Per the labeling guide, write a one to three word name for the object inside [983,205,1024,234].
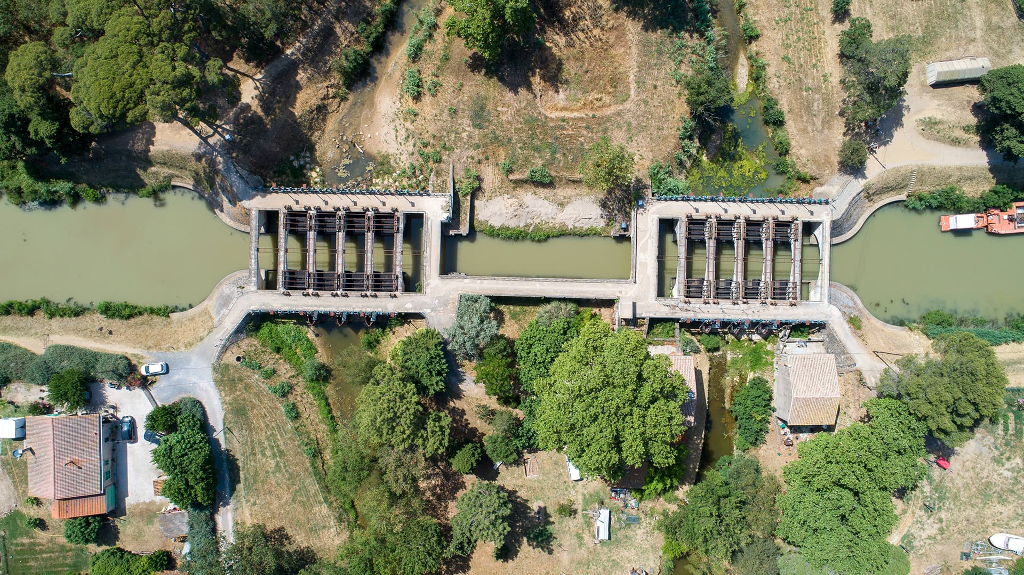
ship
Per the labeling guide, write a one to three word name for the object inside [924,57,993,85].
building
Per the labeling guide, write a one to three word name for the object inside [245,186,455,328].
bridge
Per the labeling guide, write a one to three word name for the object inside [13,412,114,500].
house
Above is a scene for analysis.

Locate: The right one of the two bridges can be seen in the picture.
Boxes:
[635,194,835,337]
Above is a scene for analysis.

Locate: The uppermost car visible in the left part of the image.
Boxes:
[140,362,166,375]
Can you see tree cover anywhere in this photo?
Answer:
Yes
